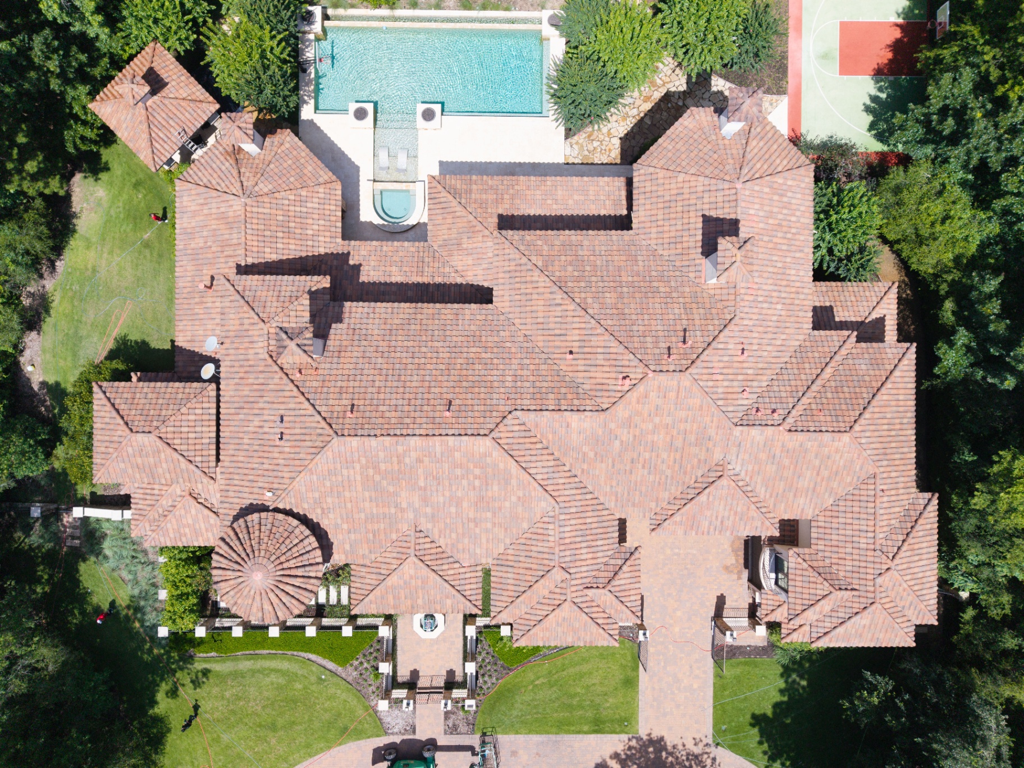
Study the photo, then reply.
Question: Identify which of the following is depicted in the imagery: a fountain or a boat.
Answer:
fountain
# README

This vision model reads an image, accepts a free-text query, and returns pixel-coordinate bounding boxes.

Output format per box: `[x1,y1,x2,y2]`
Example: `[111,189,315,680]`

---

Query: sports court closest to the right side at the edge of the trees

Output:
[802,0,928,151]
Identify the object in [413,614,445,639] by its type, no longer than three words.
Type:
fountain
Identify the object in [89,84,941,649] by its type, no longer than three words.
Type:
house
